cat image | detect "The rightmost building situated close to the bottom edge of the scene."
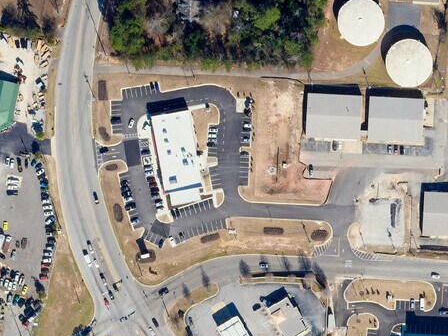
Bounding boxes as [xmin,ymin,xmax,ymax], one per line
[267,298,308,336]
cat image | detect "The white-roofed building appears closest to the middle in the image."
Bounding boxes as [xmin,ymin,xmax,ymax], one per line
[150,103,206,206]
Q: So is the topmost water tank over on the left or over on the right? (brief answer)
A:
right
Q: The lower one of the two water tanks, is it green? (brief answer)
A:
No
